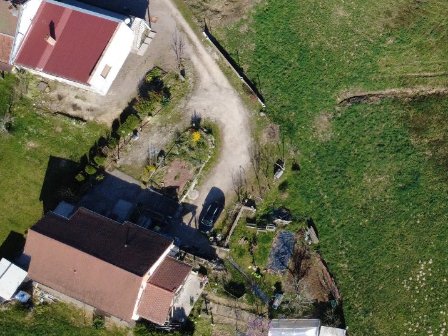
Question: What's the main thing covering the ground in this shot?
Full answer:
The scene is dominated by grass.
